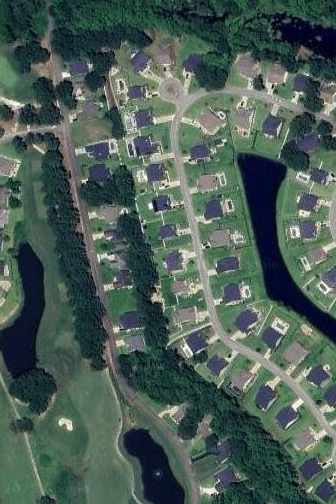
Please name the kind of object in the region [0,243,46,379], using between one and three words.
pond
